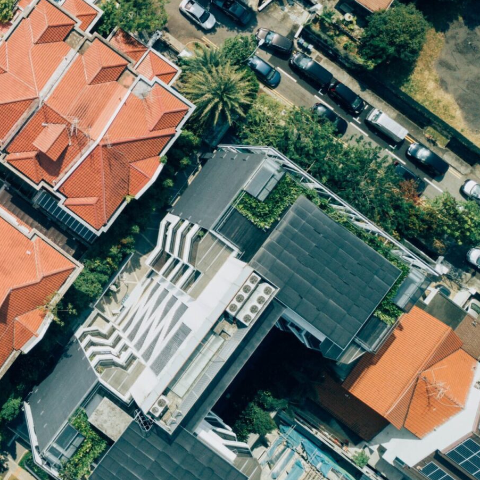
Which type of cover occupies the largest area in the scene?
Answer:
buildings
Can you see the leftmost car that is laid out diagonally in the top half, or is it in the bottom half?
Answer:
top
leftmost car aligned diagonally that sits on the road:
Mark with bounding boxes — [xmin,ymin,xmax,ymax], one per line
[173,0,219,34]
